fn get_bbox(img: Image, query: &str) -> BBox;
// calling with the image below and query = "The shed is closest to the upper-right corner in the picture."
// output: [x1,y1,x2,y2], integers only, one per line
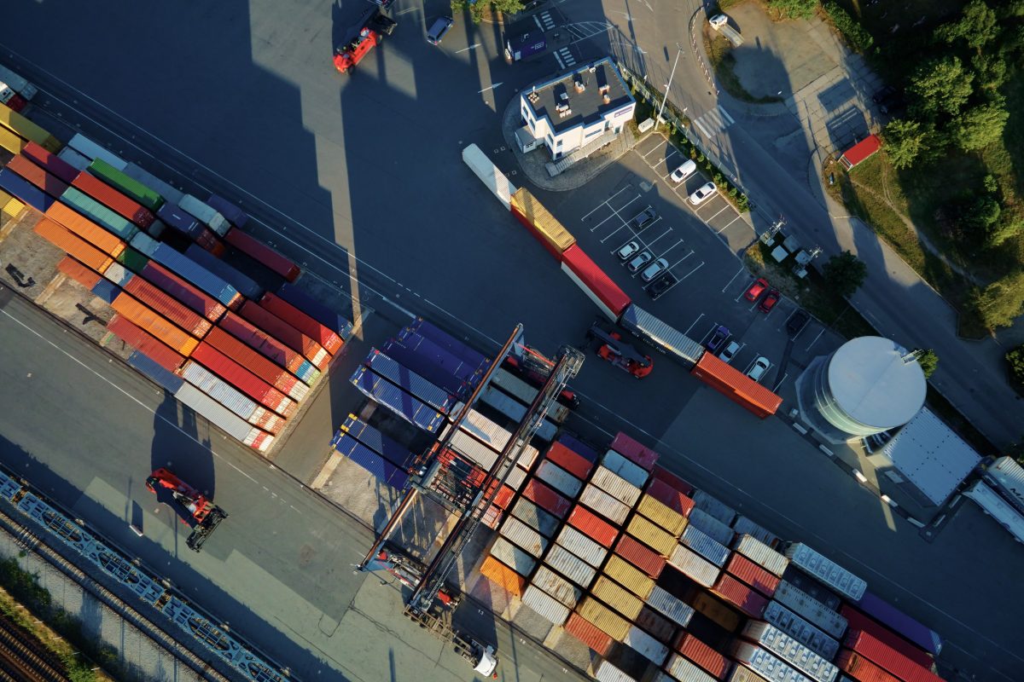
[839,135,880,171]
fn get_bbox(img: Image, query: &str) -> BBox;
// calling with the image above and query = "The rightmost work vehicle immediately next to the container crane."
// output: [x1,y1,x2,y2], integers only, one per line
[576,304,663,379]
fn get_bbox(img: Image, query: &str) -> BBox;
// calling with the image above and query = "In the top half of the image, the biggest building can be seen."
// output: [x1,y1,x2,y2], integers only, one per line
[521,56,636,160]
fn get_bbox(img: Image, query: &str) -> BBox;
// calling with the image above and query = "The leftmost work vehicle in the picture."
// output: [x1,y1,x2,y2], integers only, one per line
[148,475,232,550]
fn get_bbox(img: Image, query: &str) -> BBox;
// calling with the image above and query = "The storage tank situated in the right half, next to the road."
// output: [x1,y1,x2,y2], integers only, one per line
[802,335,928,440]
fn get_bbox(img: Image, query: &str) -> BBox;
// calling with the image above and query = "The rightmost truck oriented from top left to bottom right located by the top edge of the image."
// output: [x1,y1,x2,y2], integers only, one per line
[705,12,745,46]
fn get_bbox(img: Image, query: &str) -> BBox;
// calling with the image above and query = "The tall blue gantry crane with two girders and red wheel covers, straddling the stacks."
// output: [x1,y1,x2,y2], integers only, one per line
[361,328,591,623]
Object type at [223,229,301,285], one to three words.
shipping container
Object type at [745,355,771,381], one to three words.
car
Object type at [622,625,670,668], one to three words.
shipping container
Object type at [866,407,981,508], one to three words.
building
